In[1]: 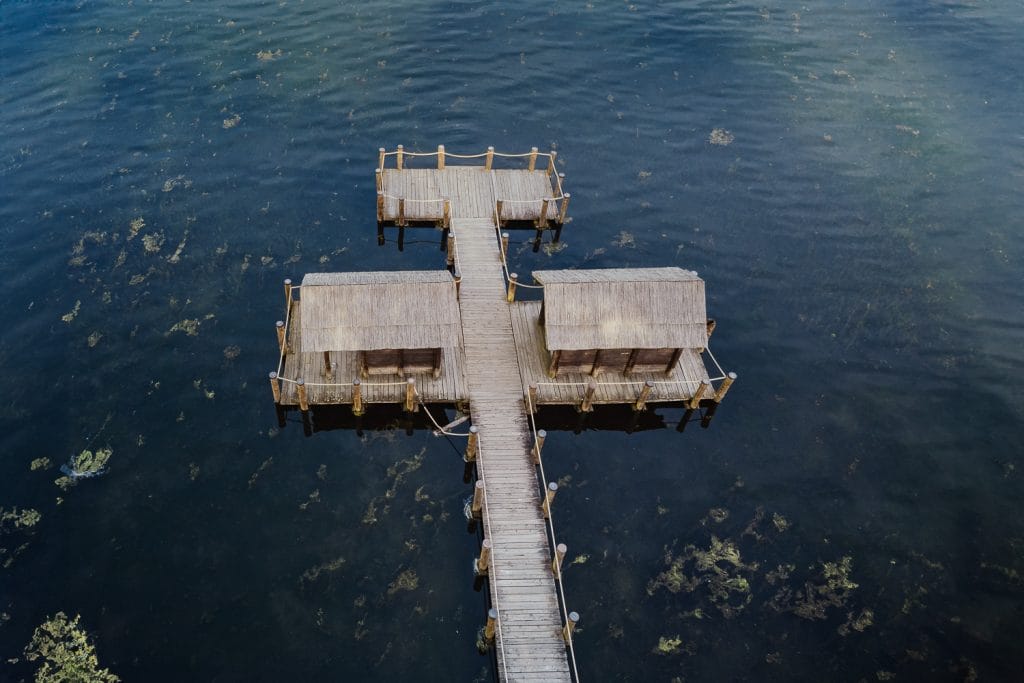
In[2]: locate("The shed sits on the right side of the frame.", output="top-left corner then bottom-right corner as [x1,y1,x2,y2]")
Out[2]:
[533,270,710,377]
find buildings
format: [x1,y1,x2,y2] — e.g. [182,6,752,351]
[533,270,710,377]
[301,270,458,381]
